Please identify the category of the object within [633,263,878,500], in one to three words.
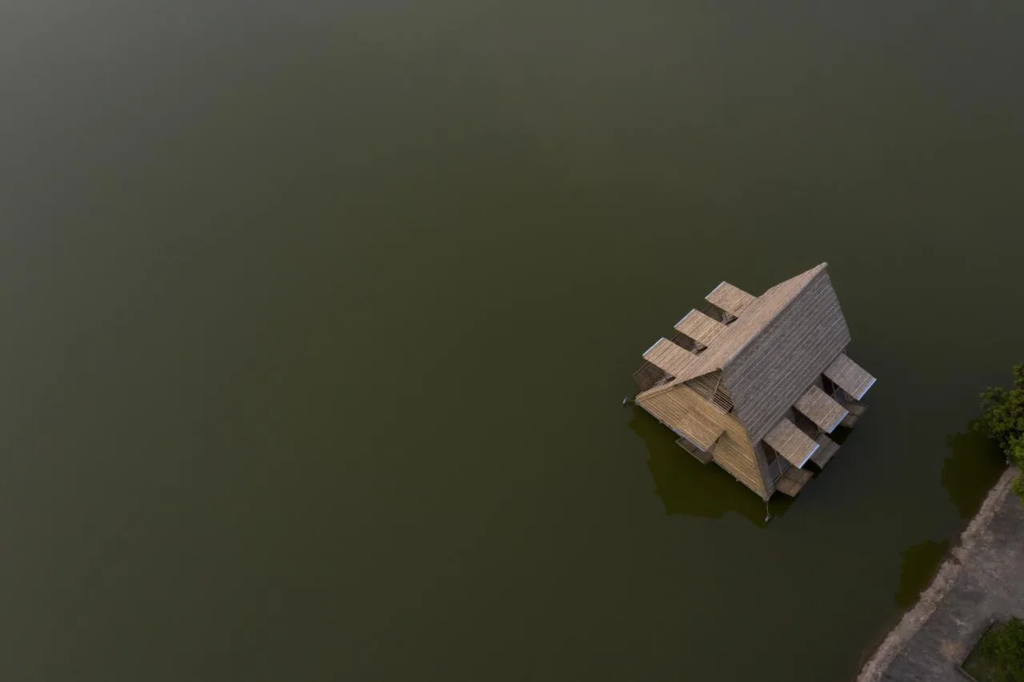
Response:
house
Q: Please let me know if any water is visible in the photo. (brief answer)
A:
Yes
